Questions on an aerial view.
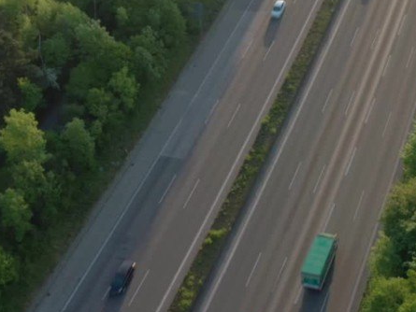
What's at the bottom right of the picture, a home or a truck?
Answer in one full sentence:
The feature located at the bottom right of the picture is a truck.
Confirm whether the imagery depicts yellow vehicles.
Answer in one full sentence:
No, there's no yellow vehicle here.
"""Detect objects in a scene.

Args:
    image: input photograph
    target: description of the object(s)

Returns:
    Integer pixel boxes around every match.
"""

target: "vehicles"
[110,262,137,293]
[270,1,286,19]
[301,233,341,293]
